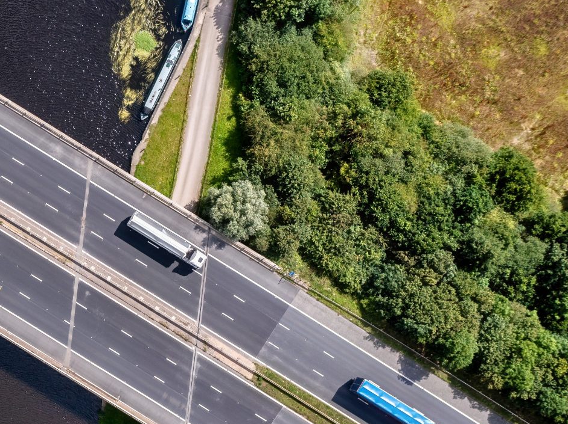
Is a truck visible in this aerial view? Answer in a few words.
Yes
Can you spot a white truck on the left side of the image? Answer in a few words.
Yes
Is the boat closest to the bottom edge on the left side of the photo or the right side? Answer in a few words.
left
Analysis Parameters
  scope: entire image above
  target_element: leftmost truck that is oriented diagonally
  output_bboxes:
[129,211,208,270]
